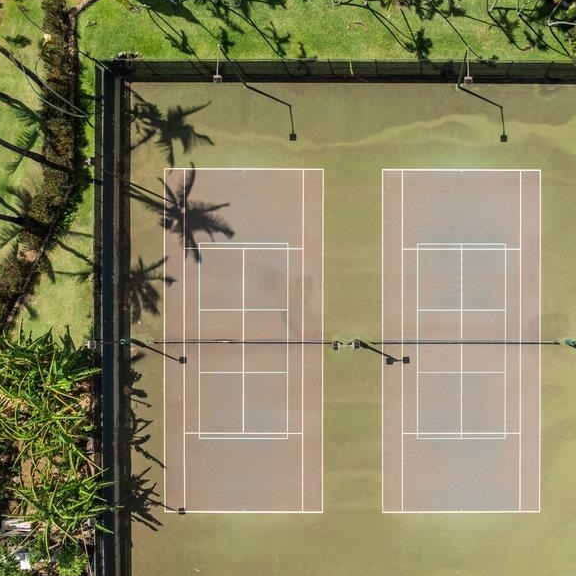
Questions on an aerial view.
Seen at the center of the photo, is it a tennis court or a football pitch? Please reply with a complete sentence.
There is a tennis court at the center of the photo.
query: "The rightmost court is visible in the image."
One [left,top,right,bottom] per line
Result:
[382,169,541,513]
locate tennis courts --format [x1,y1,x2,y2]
[163,169,323,514]
[382,169,541,513]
